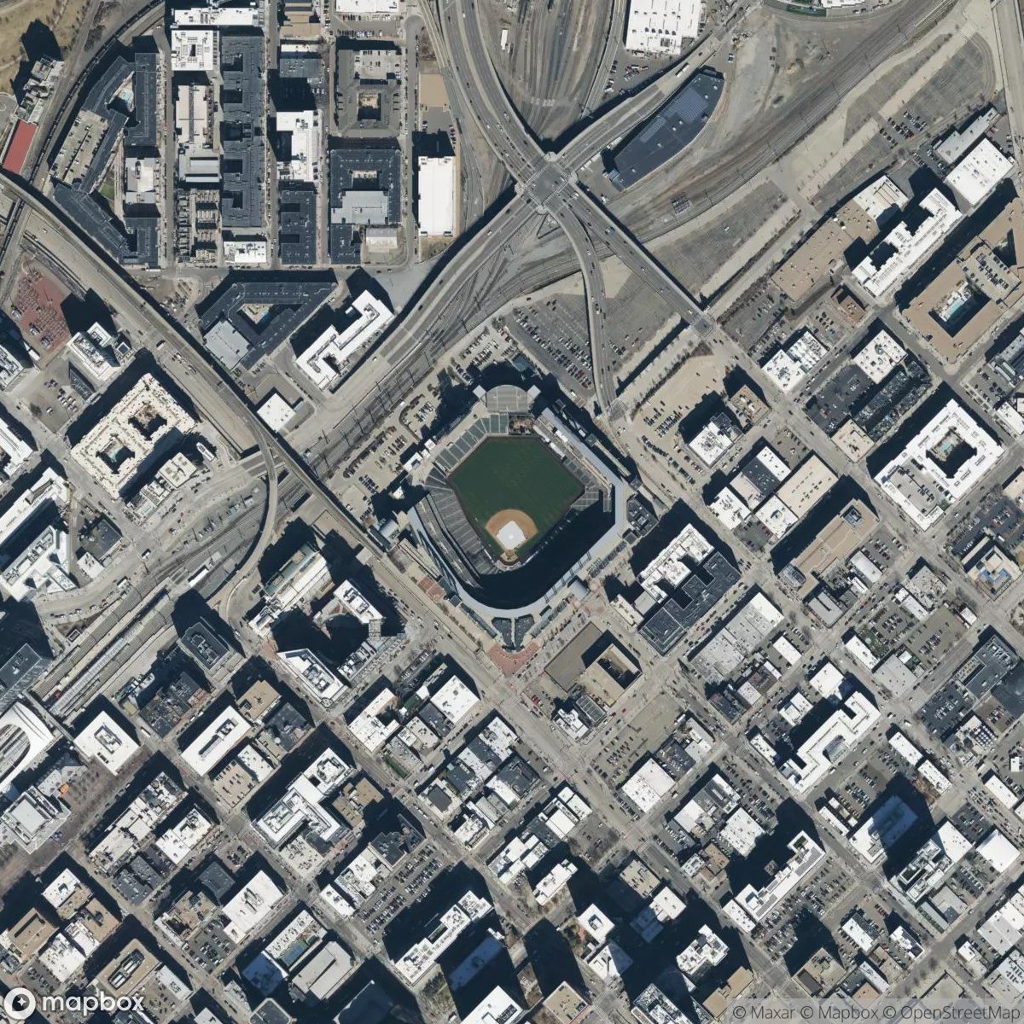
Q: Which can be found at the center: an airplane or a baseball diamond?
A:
baseball diamond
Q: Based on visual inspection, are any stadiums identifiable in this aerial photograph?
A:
Yes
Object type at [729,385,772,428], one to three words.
shed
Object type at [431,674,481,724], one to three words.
building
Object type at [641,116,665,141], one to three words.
solar array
